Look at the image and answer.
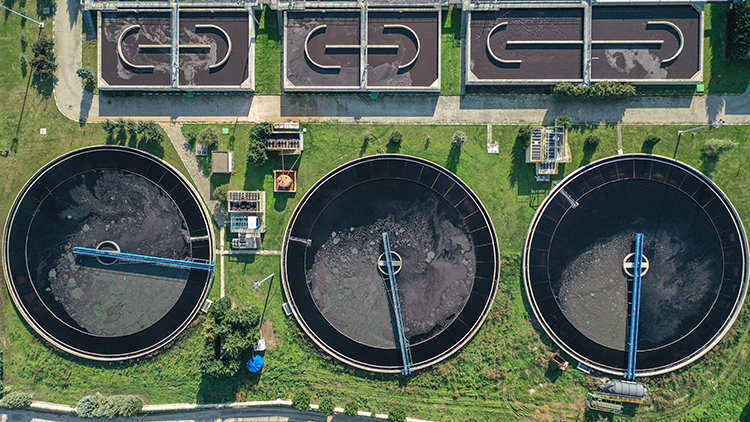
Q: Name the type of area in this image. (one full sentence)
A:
What you see here is an industrial area.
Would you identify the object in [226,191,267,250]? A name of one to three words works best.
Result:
building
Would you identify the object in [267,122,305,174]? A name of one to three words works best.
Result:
building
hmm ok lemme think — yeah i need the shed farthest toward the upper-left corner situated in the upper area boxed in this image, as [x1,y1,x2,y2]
[212,151,237,173]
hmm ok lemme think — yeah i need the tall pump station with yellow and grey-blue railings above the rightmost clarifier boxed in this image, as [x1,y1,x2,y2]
[524,116,574,182]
